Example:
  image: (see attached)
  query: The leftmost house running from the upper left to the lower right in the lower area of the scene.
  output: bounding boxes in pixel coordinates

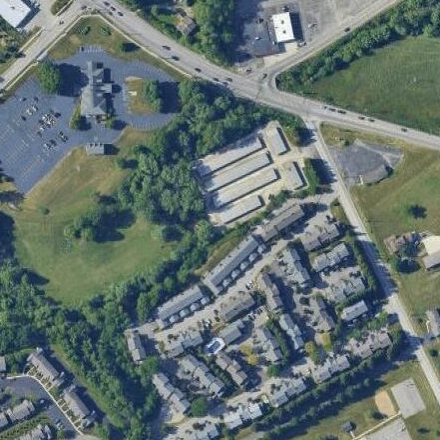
[27,354,60,382]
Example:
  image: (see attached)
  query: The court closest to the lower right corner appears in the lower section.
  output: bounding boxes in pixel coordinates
[391,379,426,418]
